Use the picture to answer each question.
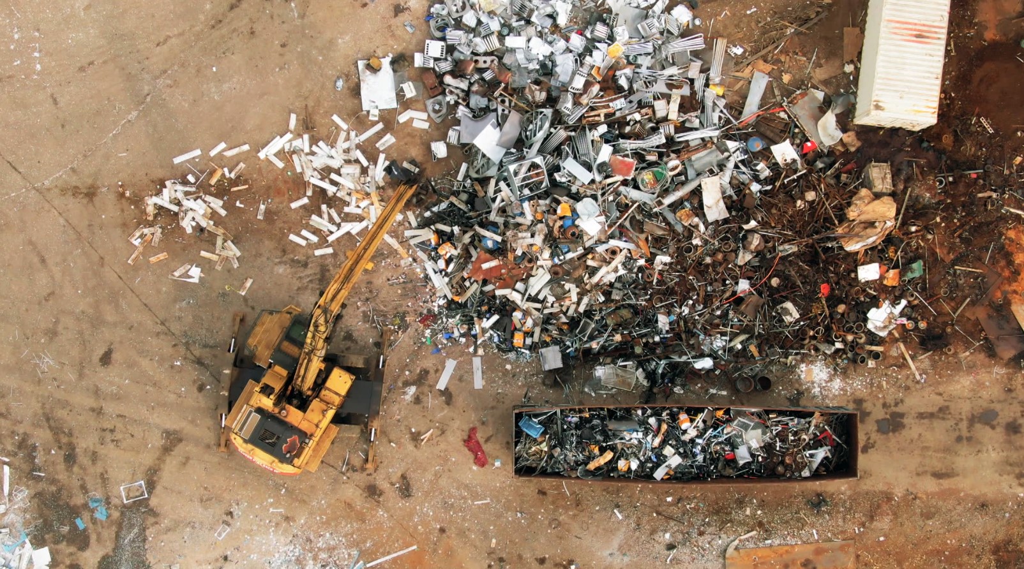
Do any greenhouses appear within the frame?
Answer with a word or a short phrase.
No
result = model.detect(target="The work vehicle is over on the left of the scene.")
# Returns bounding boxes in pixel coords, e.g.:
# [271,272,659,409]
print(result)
[218,153,426,476]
